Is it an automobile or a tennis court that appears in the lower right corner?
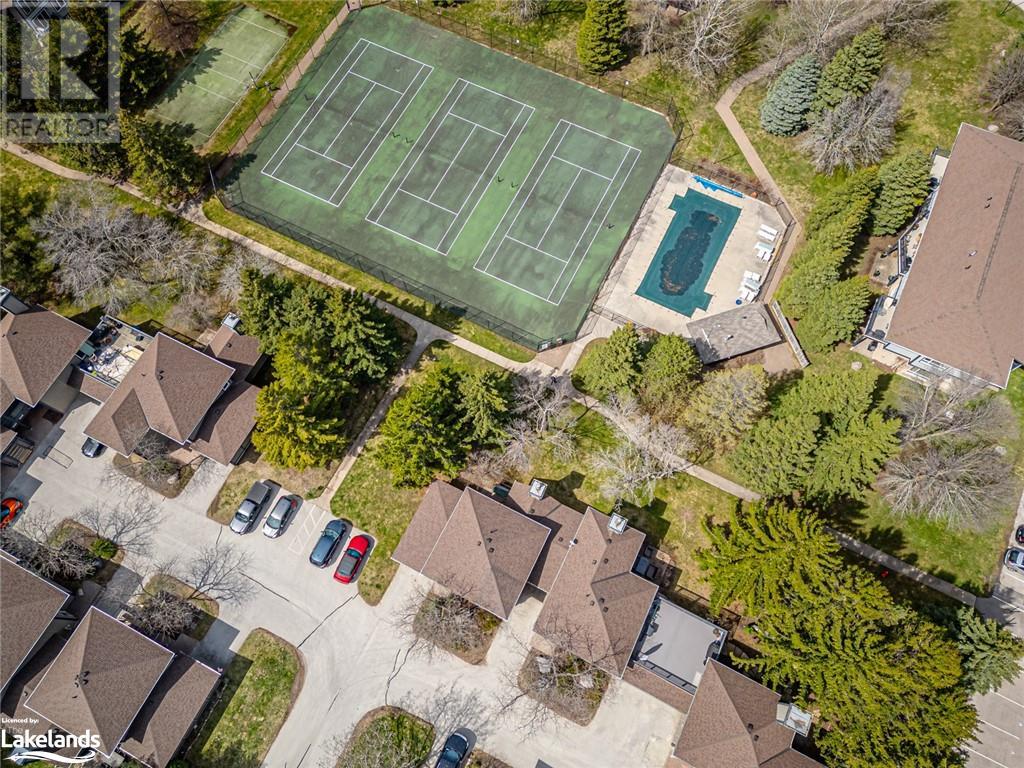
automobile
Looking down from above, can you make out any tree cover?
Yes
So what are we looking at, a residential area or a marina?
residential area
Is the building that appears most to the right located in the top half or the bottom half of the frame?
top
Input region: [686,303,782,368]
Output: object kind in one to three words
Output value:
building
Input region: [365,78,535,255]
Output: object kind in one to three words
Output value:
tennis court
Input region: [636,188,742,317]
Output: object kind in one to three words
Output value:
swimming pool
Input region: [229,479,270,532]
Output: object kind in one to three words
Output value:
truck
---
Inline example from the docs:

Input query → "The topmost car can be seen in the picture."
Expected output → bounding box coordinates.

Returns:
[79,435,103,458]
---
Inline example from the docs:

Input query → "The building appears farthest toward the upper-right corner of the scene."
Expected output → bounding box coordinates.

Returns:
[874,122,1024,394]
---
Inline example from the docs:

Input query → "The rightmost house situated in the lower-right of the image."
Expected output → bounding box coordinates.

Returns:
[664,657,827,768]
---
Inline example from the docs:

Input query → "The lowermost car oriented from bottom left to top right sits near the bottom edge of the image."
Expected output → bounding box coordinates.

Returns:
[432,725,470,768]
